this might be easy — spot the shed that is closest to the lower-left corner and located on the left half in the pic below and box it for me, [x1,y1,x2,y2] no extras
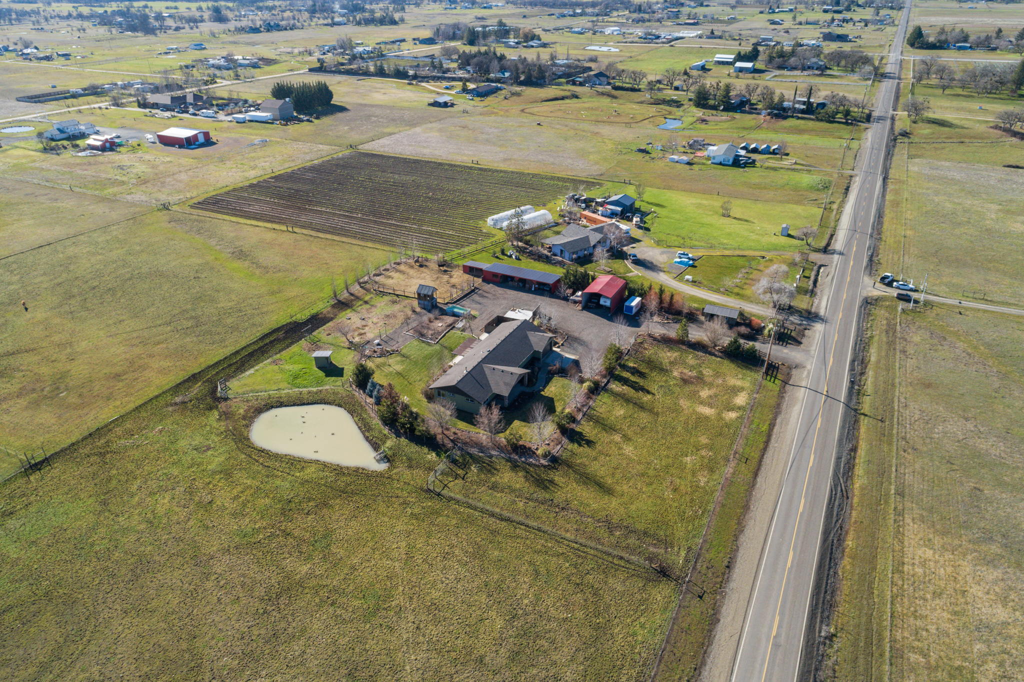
[310,347,334,370]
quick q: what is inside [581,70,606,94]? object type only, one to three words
house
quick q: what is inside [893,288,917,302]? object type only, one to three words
car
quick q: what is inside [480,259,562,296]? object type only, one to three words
shed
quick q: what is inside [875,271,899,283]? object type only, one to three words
vehicle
